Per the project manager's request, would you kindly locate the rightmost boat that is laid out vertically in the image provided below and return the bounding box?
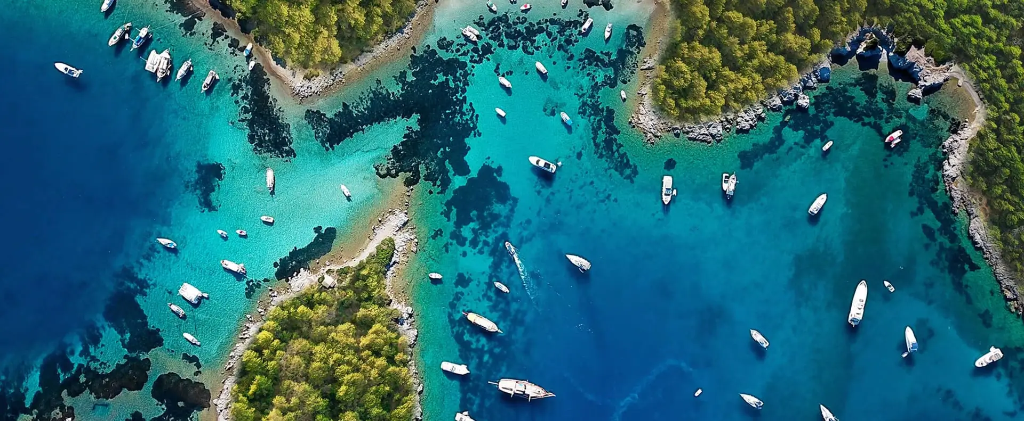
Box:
[905,327,918,354]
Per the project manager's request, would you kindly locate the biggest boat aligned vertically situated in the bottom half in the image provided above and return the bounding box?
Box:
[848,281,867,326]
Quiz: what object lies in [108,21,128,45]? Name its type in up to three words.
boat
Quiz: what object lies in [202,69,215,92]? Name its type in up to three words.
boat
